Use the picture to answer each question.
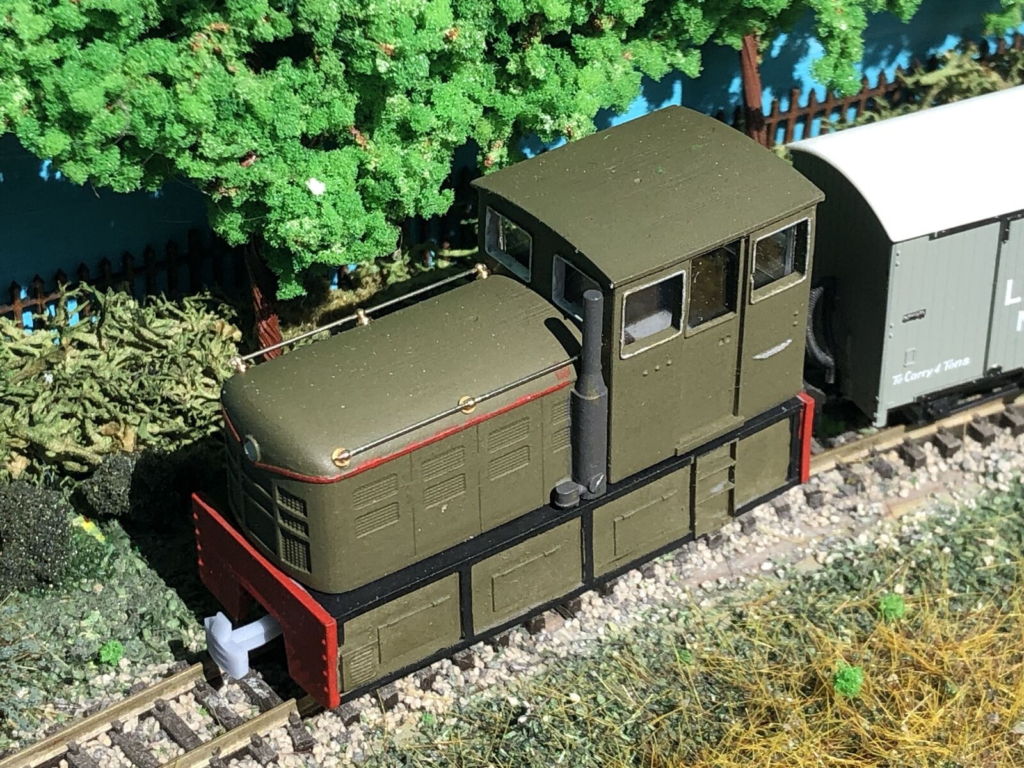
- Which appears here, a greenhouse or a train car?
train car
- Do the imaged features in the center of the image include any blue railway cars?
No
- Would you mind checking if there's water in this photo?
No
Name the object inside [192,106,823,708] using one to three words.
rail car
